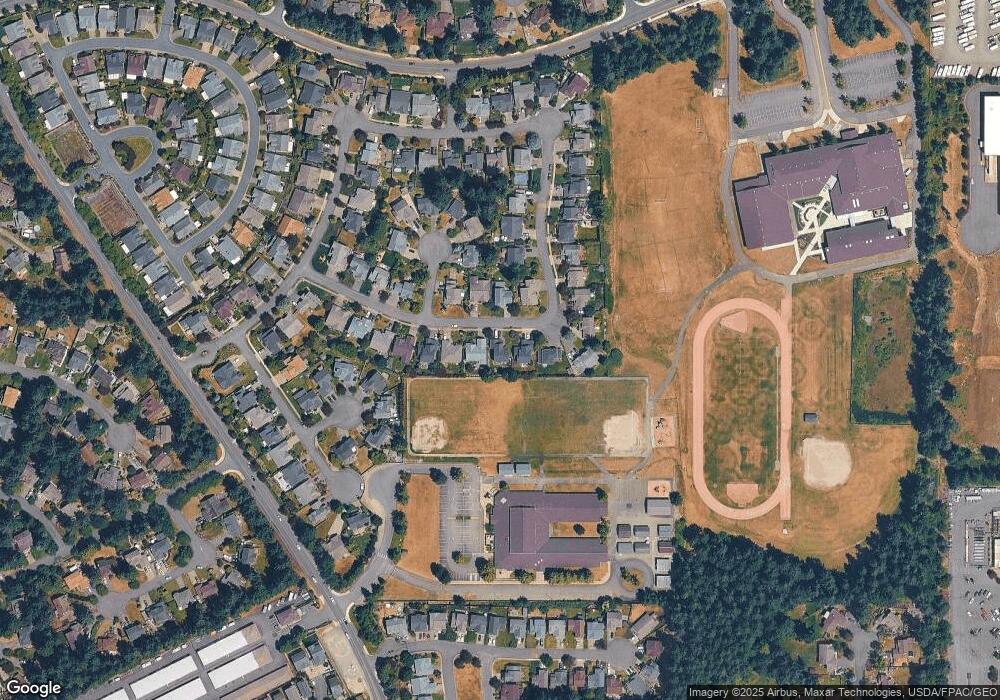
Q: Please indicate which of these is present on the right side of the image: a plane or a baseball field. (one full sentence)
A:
Visible on the right side of the image is a baseball field.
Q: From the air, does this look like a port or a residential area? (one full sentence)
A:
It's a residential area.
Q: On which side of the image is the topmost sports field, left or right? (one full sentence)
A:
The topmost sports field sits on the right side.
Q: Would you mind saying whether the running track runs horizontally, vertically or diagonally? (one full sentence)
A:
In this picture, the running track lies vertically.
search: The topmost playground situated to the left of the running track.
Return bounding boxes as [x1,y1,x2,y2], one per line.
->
[653,417,676,447]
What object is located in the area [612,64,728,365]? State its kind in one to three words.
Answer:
sports field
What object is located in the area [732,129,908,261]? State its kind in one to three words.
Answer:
building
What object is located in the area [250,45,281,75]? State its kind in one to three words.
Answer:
house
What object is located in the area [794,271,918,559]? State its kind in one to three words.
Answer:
baseball field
